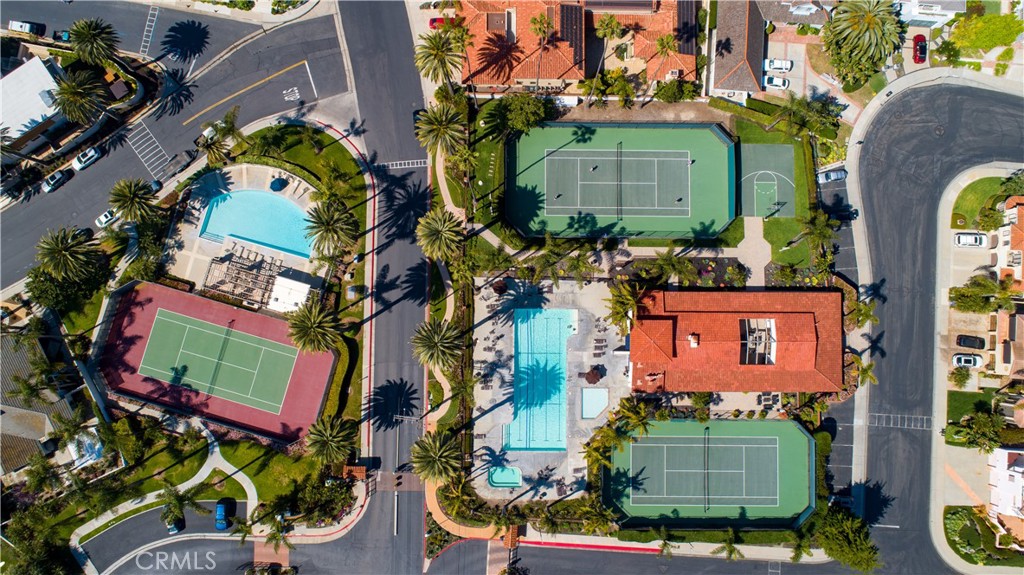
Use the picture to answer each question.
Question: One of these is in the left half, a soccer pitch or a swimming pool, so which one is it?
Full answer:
You can see a swimming pool in the left half.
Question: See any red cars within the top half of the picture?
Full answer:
Yes, there is a red car within the top half of the picture.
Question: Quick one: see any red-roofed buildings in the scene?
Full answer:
Yes, there's a red-roofed building here.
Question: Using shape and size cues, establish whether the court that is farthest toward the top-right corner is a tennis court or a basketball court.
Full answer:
It turns out the court that is farthest toward the top-right corner is a basketball court.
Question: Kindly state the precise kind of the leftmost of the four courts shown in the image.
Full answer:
From above, the leftmost of the four courts can be identified as a tennis court.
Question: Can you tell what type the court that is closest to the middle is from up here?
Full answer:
In the photo, the court that is closest to the middle shows up as a tennis court.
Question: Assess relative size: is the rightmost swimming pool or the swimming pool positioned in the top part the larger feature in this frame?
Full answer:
Compared with the rightmost swimming pool, the swimming pool positioned in the top part is the larger one.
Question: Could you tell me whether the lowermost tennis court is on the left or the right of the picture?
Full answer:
You can find the lowermost tennis court on the right side of the picture.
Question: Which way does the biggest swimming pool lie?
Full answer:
The biggest swimming pool is laid out vertically.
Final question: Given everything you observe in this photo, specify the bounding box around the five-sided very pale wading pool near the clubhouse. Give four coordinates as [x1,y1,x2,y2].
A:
[580,386,611,421]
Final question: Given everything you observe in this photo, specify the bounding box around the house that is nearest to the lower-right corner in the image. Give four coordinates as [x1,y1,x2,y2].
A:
[987,445,1024,515]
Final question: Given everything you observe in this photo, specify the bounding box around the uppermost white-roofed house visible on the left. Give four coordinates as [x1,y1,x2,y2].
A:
[0,43,84,171]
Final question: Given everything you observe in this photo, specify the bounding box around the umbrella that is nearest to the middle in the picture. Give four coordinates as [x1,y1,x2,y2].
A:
[494,282,507,295]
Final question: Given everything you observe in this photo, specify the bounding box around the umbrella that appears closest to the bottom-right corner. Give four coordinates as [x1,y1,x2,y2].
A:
[585,369,600,384]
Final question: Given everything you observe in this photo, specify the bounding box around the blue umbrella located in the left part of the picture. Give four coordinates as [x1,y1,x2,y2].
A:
[270,175,288,192]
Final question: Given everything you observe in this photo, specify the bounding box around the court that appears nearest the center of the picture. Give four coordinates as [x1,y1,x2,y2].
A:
[506,128,727,236]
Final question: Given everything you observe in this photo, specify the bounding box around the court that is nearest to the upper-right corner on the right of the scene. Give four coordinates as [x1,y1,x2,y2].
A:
[741,143,795,217]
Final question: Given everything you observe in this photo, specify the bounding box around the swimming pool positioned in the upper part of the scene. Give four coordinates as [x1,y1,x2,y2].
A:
[197,189,314,260]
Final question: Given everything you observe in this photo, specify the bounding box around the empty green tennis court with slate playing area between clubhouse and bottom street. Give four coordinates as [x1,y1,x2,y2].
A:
[603,418,809,523]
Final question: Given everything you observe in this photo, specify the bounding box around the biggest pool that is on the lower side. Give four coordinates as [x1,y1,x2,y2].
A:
[501,307,580,453]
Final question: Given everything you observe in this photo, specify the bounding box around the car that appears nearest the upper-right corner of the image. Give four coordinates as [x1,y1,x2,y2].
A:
[912,34,929,64]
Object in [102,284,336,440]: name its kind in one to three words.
tennis court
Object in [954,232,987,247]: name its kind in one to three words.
car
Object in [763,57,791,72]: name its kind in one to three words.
car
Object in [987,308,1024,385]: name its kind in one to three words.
house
